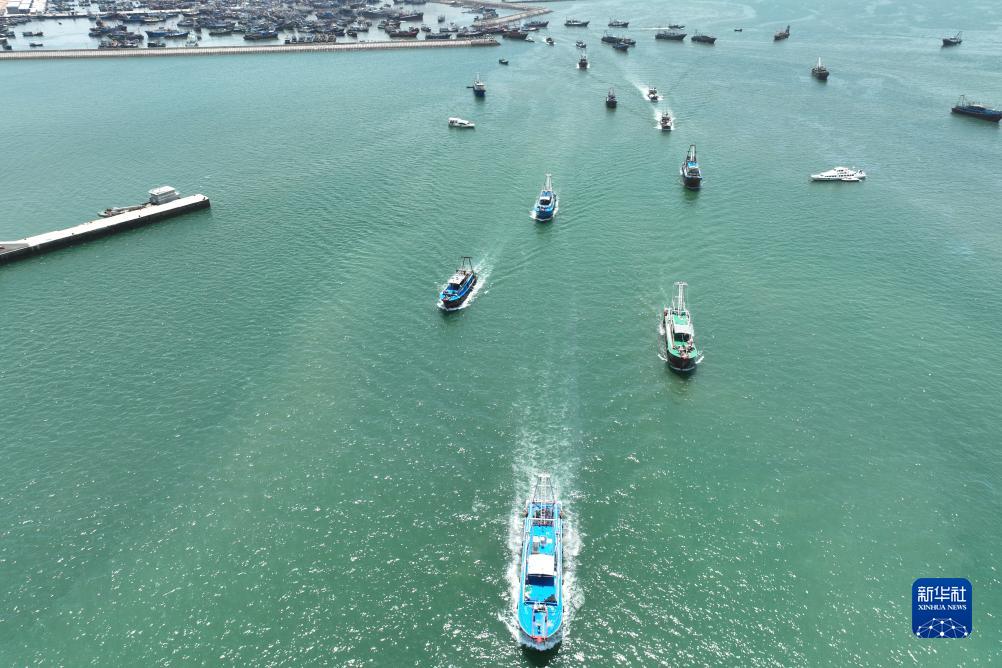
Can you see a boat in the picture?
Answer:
Yes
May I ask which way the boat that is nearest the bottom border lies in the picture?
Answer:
from top to bottom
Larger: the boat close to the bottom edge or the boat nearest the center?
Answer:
the boat close to the bottom edge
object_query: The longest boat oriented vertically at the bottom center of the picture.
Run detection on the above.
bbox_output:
[518,476,565,642]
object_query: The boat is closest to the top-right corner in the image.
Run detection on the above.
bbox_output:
[945,26,967,45]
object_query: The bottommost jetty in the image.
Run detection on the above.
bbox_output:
[0,195,211,267]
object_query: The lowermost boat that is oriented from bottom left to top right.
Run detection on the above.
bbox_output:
[438,254,480,310]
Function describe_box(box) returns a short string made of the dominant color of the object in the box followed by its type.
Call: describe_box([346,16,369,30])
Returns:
gray boat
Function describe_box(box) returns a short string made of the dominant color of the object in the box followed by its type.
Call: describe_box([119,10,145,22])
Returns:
blue boat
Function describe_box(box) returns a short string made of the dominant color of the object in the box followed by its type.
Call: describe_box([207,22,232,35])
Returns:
gray boat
